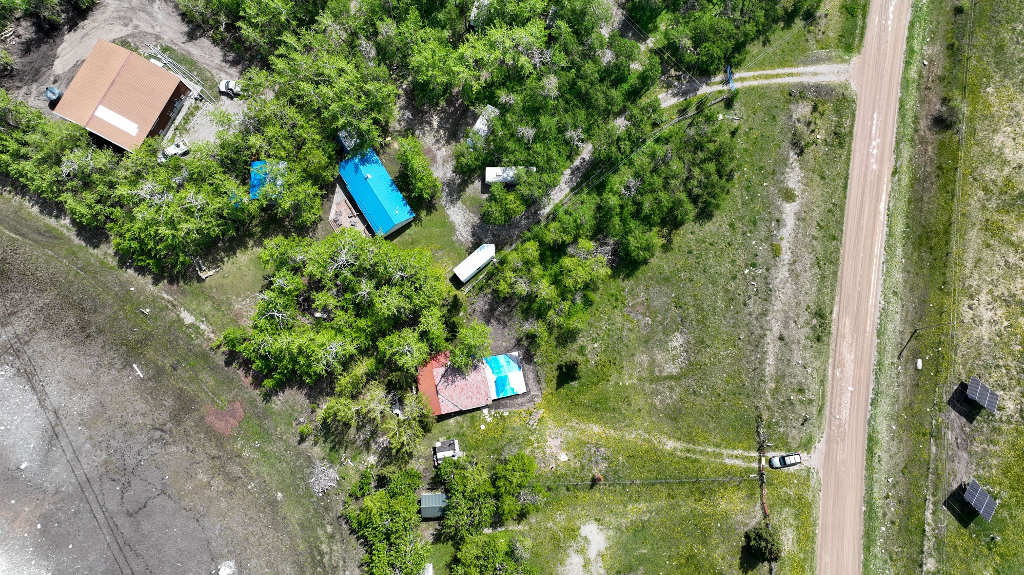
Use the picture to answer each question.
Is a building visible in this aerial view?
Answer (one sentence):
Yes, a building can be made out from above.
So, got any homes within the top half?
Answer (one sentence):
Yes, the scene does show a home within the top half.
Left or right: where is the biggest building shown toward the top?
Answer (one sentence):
The biggest building shown toward the top is on the left side of the image.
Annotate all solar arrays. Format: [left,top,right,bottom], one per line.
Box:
[965,479,997,521]
[968,376,1000,414]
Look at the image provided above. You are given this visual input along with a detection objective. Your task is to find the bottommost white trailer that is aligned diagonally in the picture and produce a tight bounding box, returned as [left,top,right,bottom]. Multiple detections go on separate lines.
[453,248,496,285]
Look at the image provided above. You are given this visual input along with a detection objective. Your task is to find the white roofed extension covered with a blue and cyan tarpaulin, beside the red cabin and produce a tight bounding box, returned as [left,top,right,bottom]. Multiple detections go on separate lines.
[484,352,526,400]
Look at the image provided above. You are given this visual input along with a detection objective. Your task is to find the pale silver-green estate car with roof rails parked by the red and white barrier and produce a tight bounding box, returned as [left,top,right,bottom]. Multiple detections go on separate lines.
[769,452,805,471]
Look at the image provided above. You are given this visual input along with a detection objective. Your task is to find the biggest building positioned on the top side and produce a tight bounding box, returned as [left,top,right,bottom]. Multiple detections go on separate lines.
[53,39,189,158]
